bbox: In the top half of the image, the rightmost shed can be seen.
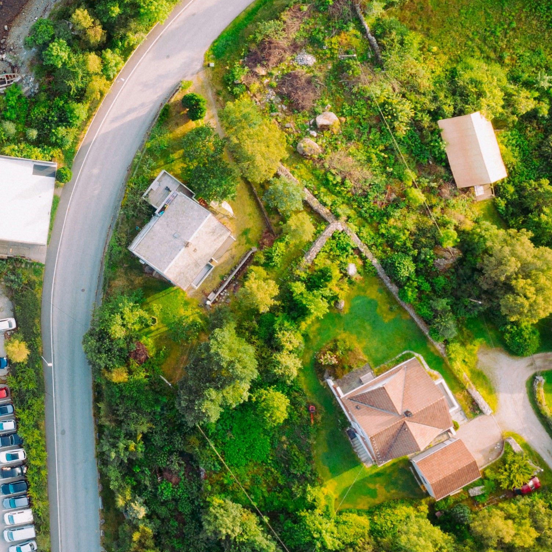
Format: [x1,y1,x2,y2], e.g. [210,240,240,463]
[433,111,507,201]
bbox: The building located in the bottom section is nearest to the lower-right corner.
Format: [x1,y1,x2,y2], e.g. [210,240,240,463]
[411,437,481,500]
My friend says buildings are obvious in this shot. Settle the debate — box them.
[411,437,481,500]
[433,111,507,201]
[128,170,251,291]
[322,356,461,466]
[0,155,58,263]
